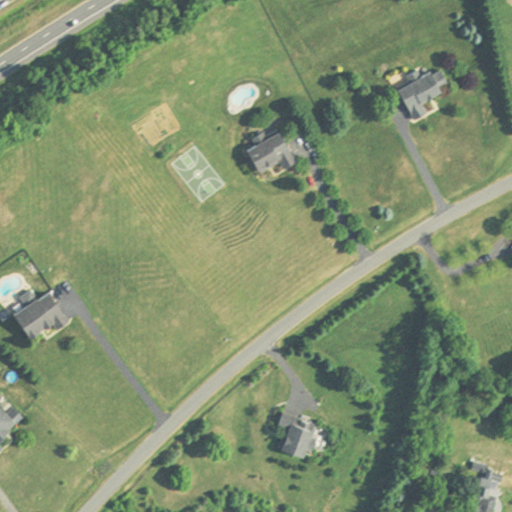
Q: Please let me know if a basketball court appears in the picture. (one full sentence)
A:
Yes, the photo shows a basketball court.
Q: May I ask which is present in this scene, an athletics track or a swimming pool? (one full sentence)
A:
The one in the frame is a swimming pool.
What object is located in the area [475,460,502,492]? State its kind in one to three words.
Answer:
house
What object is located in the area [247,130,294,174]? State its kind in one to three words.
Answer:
house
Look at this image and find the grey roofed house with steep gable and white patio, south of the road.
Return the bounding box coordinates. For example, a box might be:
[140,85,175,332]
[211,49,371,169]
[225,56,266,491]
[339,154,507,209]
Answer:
[282,425,320,462]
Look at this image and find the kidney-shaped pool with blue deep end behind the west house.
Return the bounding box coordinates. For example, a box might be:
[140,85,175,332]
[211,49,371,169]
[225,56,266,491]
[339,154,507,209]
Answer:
[0,273,32,308]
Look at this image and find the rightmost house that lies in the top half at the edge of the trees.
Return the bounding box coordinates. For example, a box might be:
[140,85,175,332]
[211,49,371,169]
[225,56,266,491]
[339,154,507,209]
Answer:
[397,70,446,116]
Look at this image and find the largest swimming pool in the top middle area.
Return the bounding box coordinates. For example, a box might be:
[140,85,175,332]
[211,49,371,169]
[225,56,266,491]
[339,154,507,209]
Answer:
[228,83,260,114]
